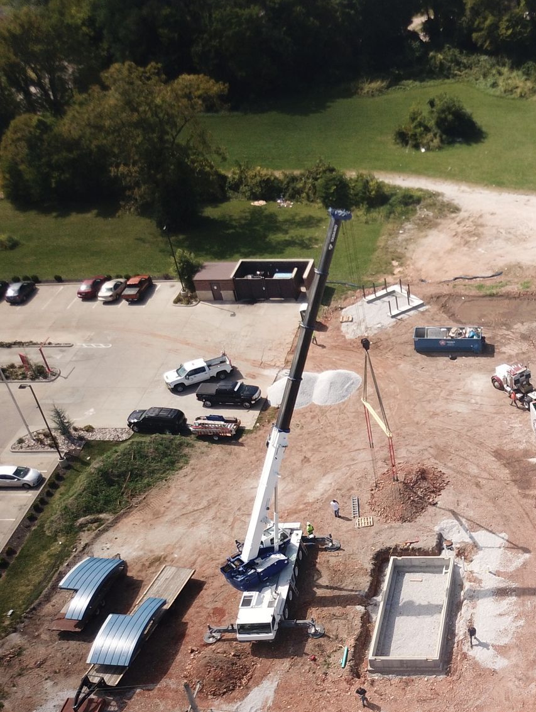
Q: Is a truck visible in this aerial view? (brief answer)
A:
Yes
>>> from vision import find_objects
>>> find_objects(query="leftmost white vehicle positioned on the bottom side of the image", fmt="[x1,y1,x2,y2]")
[0,460,39,487]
